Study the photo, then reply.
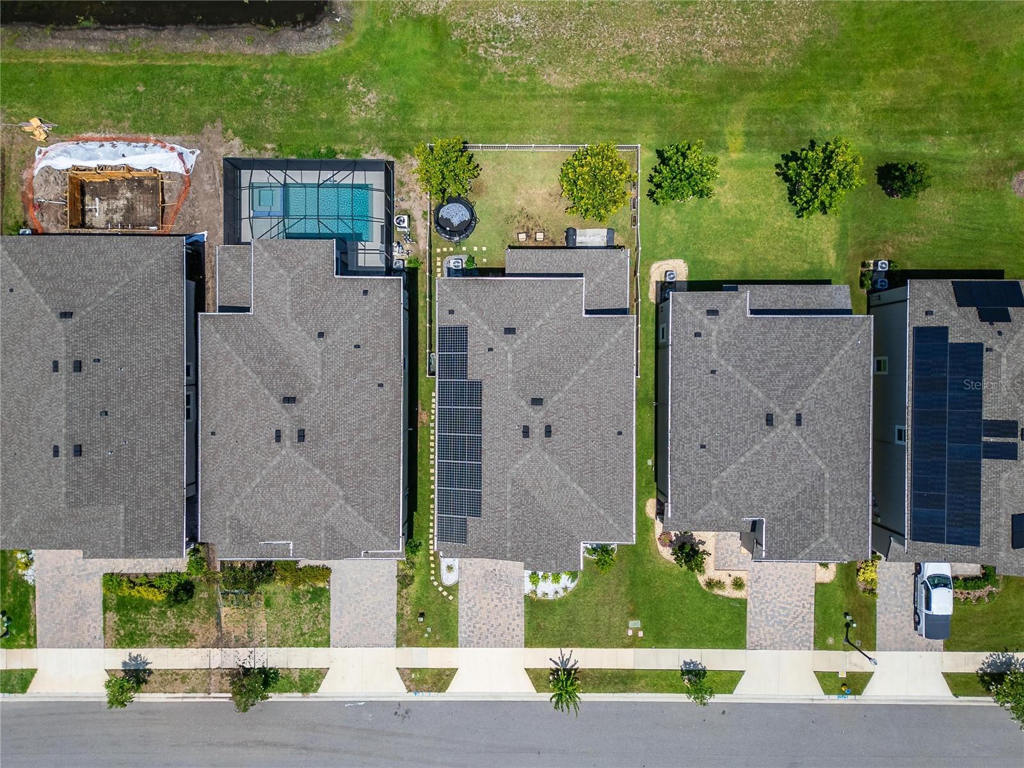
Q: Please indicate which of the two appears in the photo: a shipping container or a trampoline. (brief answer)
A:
trampoline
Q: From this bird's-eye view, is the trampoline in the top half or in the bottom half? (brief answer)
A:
top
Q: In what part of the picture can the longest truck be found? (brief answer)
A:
bottom right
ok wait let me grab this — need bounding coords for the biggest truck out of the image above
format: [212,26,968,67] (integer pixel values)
[913,561,954,638]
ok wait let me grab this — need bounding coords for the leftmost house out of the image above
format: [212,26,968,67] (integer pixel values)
[0,233,215,559]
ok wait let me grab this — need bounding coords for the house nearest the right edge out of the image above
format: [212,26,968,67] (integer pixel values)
[869,278,1024,571]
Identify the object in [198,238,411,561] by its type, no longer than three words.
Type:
house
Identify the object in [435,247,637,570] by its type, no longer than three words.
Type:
house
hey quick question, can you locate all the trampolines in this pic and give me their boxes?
[434,197,478,247]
